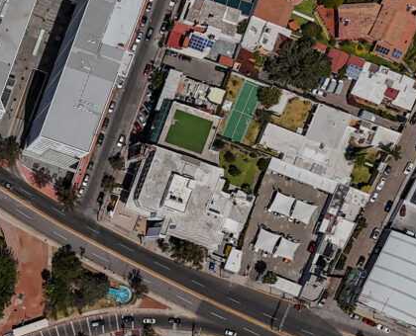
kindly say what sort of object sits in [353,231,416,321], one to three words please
building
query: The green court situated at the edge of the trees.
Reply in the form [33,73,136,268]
[223,78,261,143]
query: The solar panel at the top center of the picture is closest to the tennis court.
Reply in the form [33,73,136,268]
[189,34,215,52]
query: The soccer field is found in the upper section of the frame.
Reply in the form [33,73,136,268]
[165,110,214,154]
